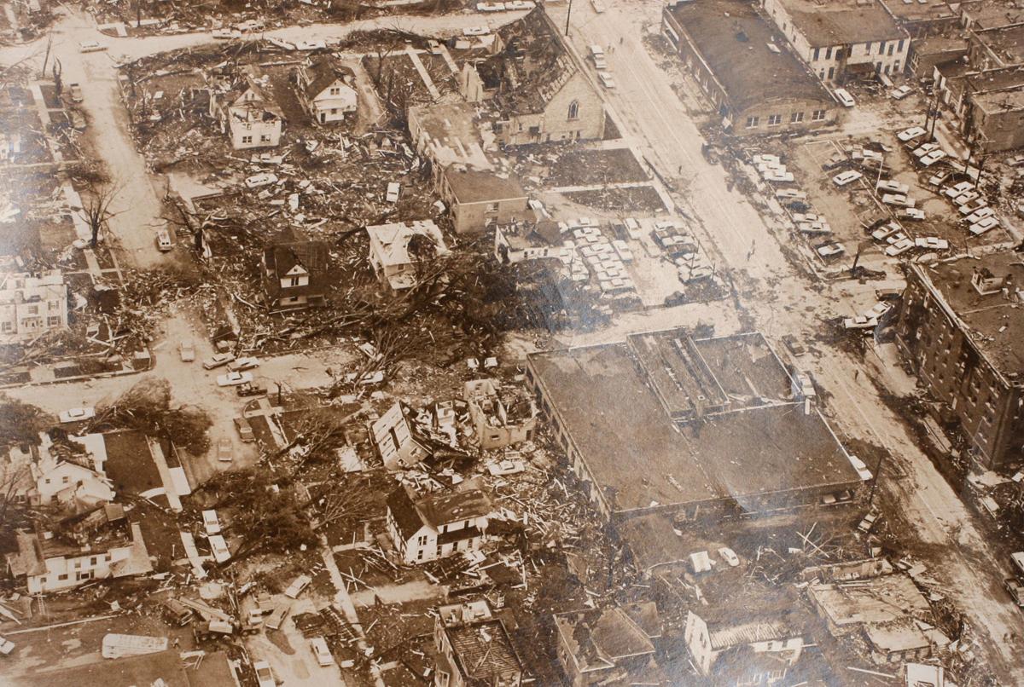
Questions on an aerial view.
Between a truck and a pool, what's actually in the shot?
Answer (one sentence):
The image shows a truck.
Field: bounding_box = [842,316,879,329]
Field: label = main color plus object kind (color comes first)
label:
white vehicle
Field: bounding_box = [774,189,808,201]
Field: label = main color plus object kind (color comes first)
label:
white vehicle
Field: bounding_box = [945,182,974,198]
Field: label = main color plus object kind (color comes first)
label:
white car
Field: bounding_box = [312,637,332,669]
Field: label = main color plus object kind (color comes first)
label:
white car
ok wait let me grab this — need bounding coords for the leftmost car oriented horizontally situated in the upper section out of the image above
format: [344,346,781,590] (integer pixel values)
[77,41,111,53]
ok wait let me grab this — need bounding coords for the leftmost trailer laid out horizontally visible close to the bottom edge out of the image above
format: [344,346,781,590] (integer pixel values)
[97,634,172,659]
